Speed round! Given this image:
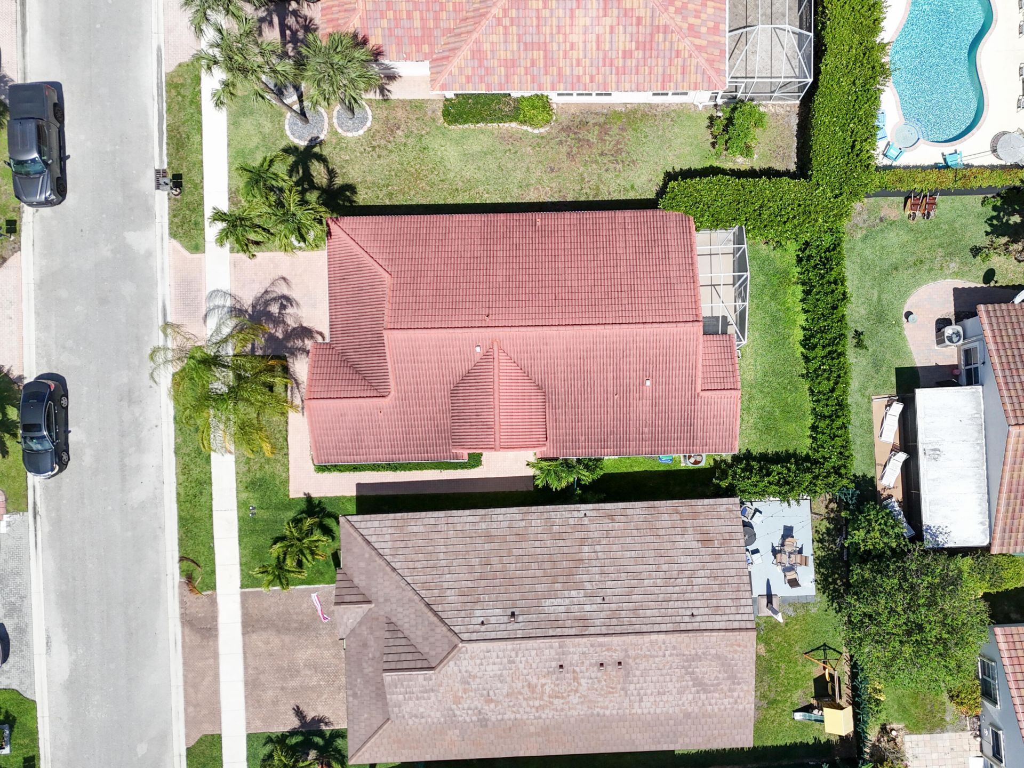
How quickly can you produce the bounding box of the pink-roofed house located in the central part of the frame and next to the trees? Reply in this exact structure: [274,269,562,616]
[303,209,743,465]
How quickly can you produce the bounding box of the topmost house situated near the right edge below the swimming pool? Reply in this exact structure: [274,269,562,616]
[873,304,1024,555]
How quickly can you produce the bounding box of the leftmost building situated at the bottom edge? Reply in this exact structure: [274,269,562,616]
[333,498,757,765]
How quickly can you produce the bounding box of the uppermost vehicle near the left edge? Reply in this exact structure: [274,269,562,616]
[4,84,67,208]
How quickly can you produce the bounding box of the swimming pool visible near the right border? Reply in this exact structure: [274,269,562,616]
[885,0,1000,152]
